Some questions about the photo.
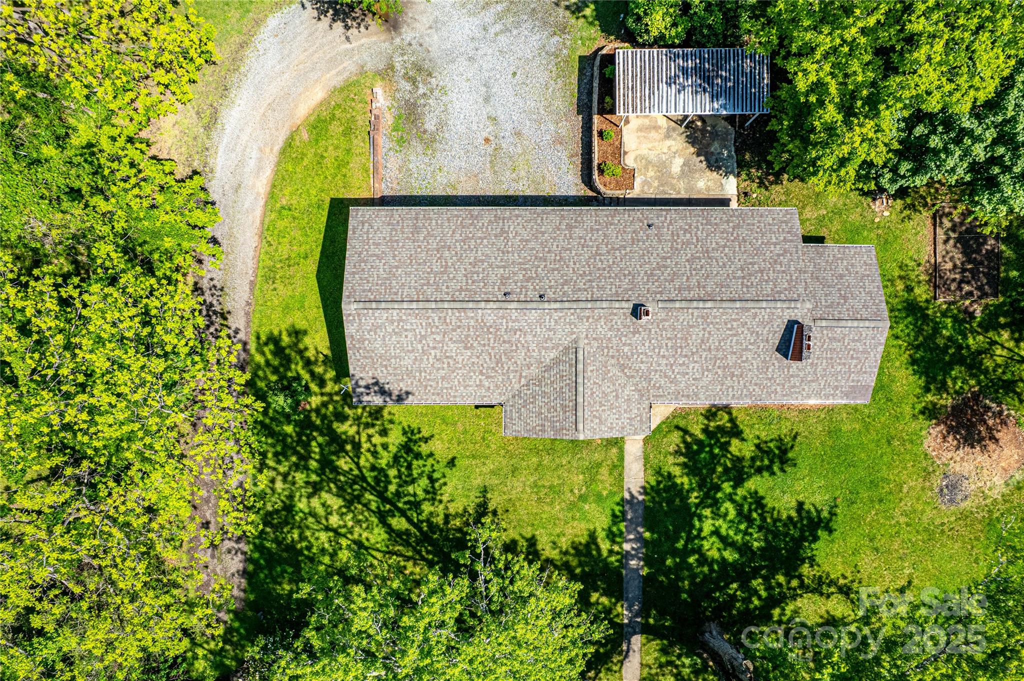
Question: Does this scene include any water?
No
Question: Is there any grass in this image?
Yes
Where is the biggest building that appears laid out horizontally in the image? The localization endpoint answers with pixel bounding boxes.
[343,205,889,440]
